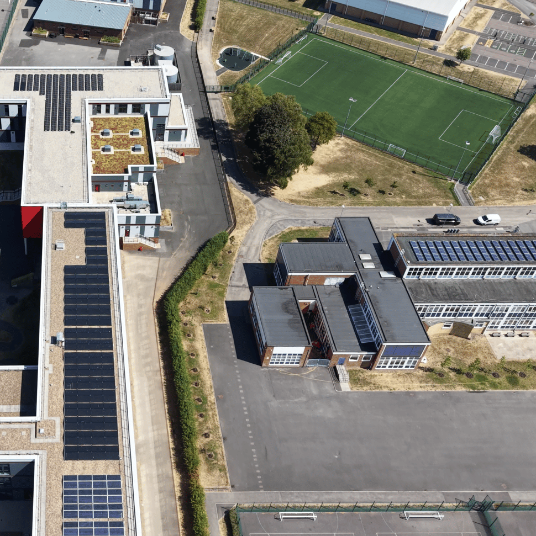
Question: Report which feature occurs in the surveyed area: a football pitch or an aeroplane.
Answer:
football pitch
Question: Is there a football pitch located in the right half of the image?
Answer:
Yes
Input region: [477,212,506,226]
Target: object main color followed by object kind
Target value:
white vehicle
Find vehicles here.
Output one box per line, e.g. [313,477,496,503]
[477,212,506,226]
[433,212,464,227]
